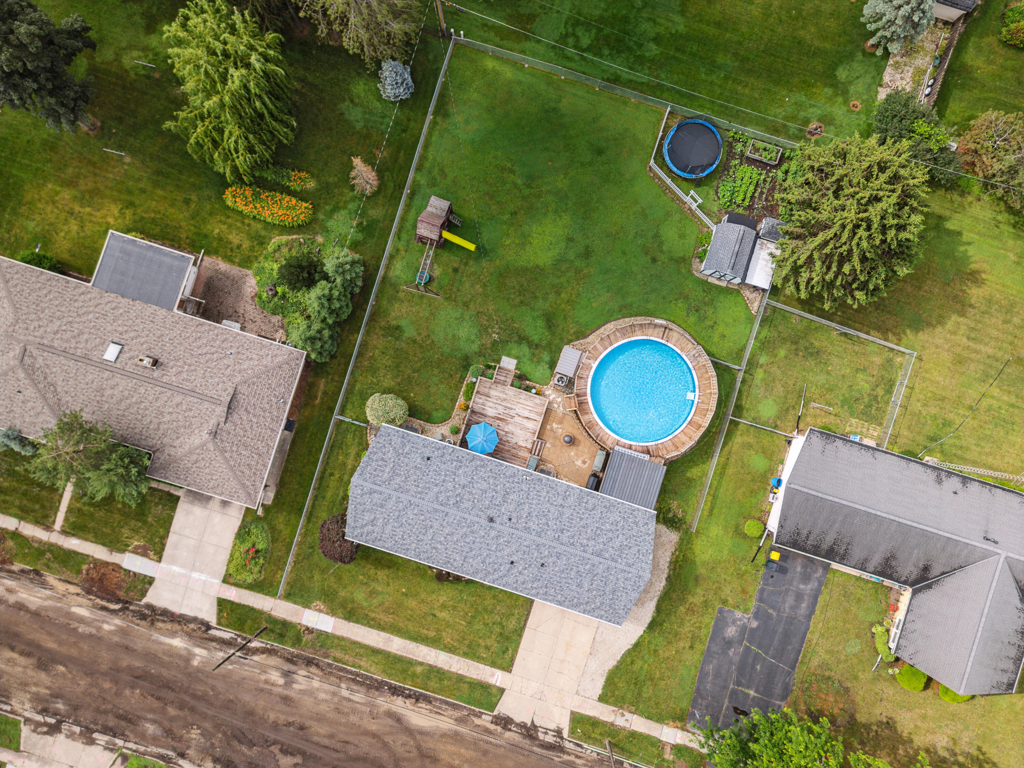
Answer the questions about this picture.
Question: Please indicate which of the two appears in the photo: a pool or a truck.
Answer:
pool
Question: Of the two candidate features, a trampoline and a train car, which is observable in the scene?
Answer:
trampoline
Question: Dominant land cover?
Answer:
grass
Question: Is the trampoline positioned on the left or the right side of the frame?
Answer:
right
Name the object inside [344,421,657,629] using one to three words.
house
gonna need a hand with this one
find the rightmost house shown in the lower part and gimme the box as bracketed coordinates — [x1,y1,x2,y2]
[763,425,1024,696]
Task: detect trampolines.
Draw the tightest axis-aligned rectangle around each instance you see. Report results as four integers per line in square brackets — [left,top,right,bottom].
[662,113,727,186]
